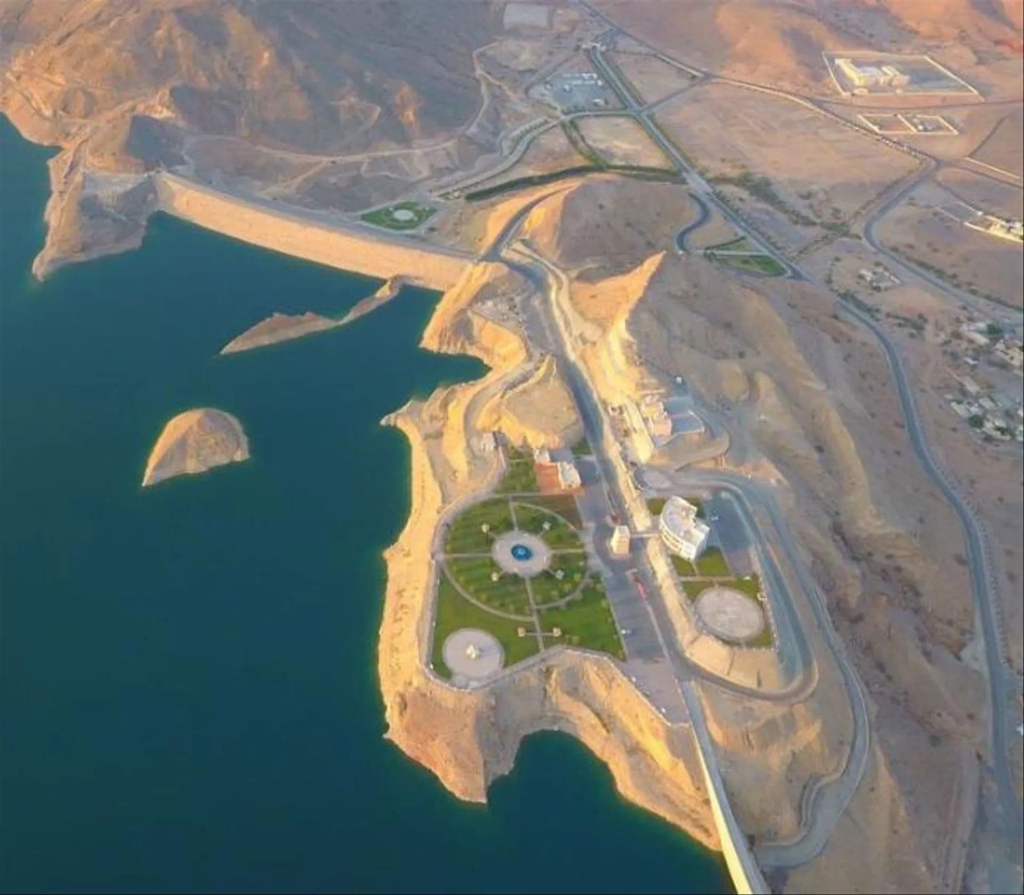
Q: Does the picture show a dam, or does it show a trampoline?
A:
dam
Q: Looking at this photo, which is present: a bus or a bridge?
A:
bridge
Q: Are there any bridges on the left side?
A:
No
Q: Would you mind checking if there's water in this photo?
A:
Yes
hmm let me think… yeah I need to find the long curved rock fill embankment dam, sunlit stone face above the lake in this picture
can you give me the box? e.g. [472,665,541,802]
[159,171,476,289]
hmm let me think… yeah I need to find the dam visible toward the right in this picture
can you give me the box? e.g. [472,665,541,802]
[694,727,772,895]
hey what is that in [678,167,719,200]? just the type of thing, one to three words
bridge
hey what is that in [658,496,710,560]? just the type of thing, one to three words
building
